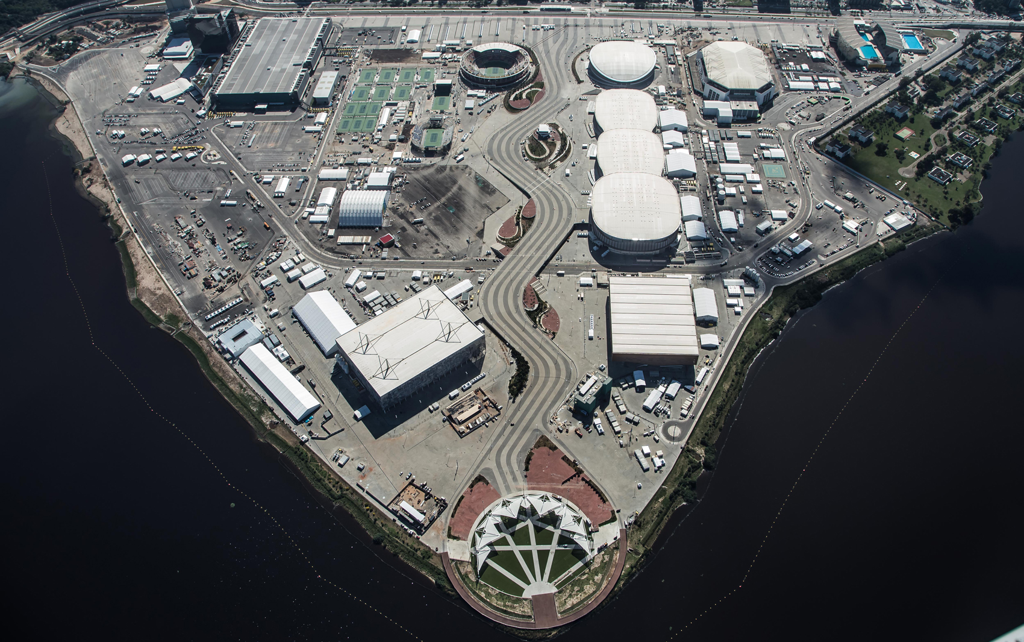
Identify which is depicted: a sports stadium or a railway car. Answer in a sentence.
The image shows a sports stadium.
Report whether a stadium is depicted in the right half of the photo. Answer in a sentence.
Yes, a stadium can be seen in the right half of the photo.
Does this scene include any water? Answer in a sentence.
Yes, water shows up in the scene.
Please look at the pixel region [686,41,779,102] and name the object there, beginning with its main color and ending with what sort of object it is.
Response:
white stadium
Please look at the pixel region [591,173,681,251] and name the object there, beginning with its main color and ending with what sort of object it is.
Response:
white stadium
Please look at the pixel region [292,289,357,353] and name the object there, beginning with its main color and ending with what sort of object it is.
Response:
white tent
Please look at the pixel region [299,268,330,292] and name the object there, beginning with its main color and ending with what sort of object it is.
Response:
white tent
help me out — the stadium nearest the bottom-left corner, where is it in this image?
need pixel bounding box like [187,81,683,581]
[336,283,485,410]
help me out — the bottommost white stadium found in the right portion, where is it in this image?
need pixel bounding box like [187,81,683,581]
[596,273,698,365]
